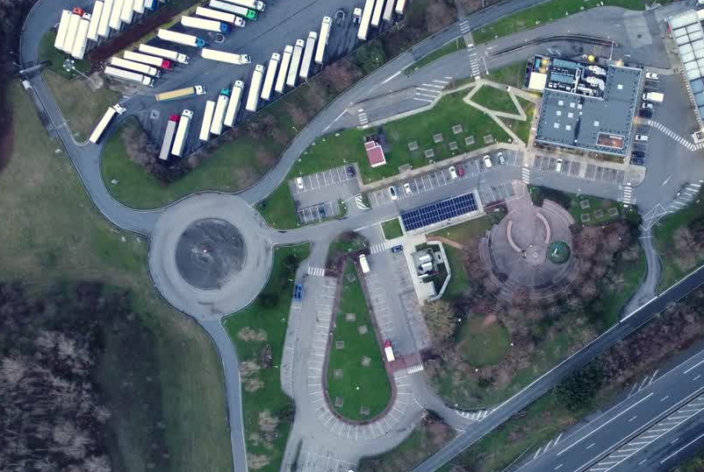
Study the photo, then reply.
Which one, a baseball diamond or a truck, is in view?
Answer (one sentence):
Of the two, only a truck appears.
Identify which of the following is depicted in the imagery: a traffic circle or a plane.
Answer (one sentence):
The image shows a traffic circle.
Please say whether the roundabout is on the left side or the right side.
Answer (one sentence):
The roundabout sits on the left side.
